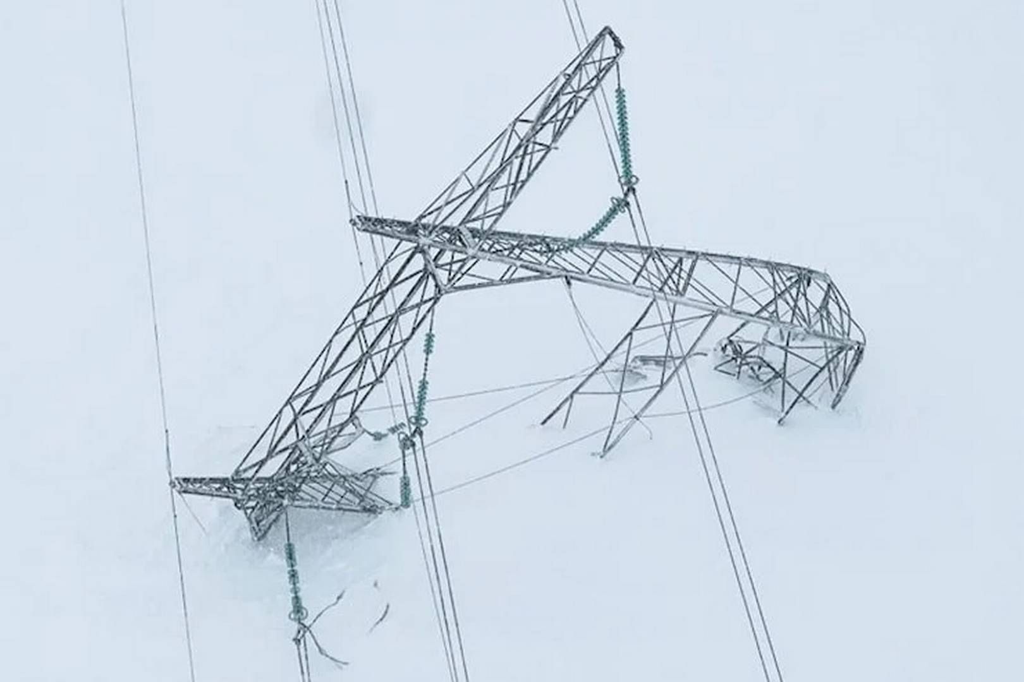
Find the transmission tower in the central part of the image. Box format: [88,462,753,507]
[176,26,866,540]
